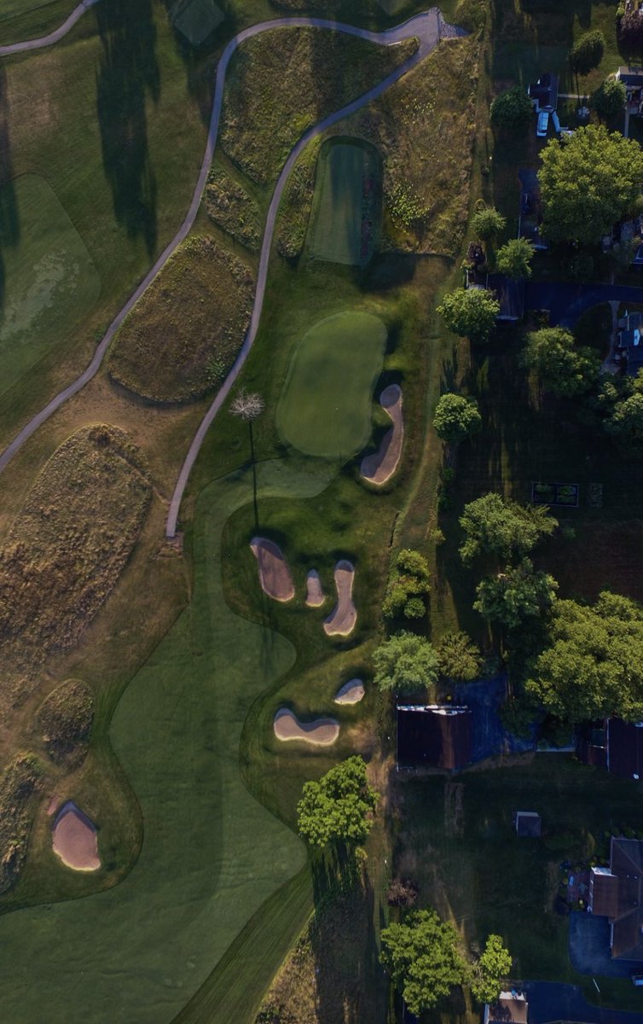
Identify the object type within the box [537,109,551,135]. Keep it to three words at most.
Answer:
car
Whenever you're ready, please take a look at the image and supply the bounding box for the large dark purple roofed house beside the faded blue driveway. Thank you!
[396,705,472,775]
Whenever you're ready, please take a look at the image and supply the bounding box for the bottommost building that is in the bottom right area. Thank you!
[484,991,529,1024]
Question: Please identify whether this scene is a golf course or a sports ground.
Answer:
golf course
